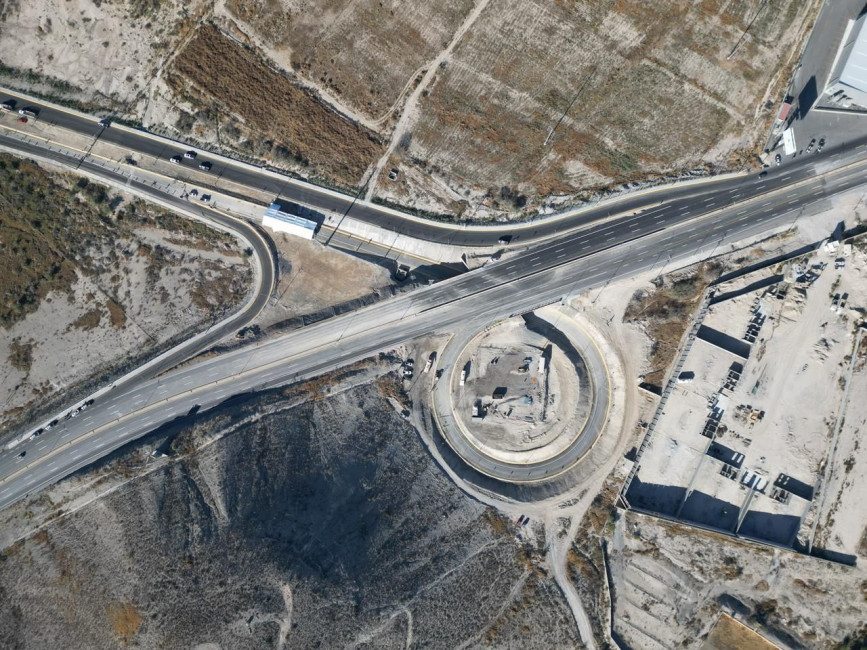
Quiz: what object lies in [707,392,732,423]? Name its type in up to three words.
building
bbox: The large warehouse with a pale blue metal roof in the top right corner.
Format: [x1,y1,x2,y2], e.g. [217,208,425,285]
[826,10,867,107]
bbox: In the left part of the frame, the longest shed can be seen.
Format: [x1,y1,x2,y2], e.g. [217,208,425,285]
[257,201,315,244]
